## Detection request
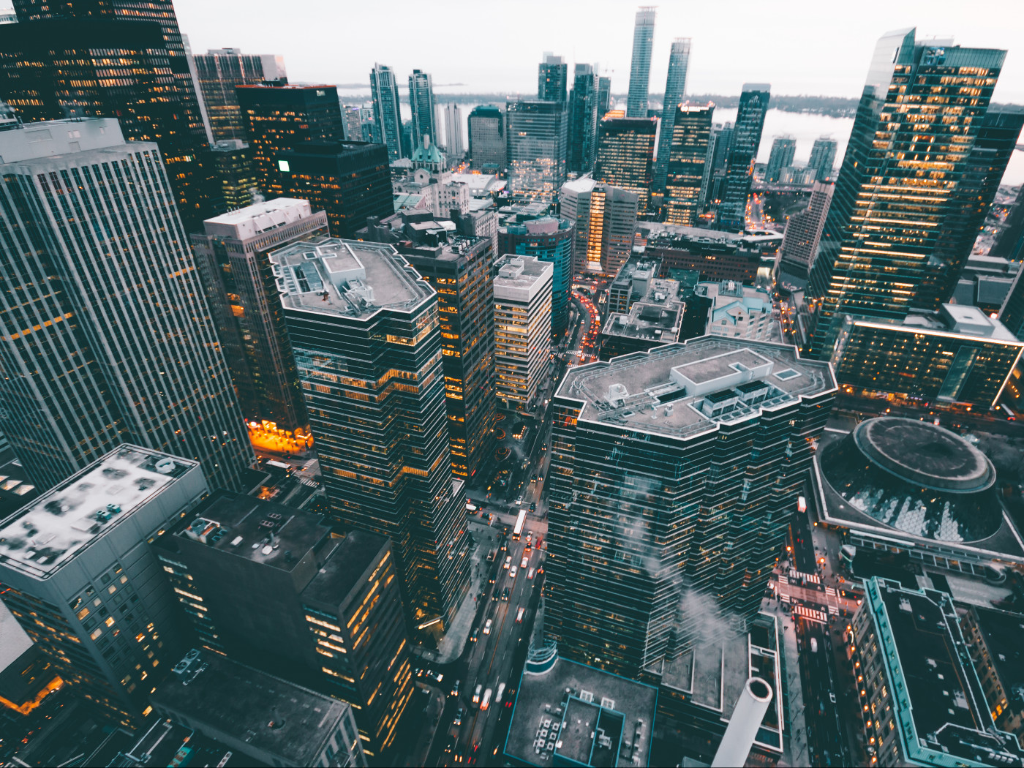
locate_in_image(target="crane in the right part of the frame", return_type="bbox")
[605,377,636,422]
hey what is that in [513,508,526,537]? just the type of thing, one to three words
vehicle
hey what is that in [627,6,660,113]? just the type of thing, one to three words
building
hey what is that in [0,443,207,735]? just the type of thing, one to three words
building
